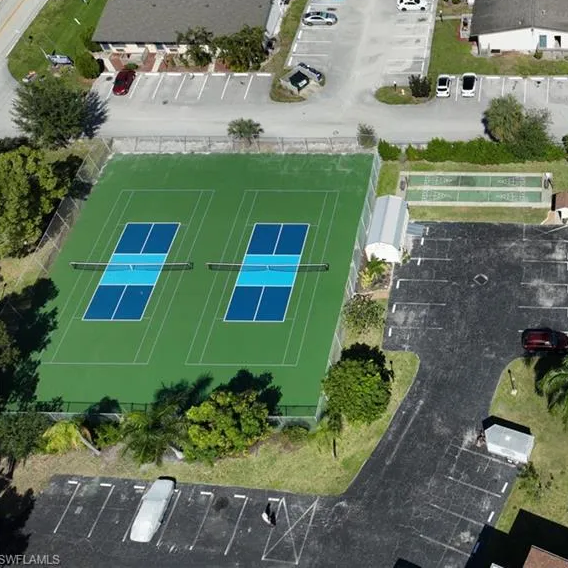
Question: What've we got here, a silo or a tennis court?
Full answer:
Of the two, only a tennis court appears.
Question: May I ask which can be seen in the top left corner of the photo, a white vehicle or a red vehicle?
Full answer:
It is a red vehicle that can be seen in the top left corner of the photo.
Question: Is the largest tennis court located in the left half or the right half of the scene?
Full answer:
It is on the left.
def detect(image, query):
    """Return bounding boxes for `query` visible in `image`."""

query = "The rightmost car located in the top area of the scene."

[460,73,477,97]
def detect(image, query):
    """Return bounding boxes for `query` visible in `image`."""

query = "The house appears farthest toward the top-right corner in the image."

[470,0,568,52]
